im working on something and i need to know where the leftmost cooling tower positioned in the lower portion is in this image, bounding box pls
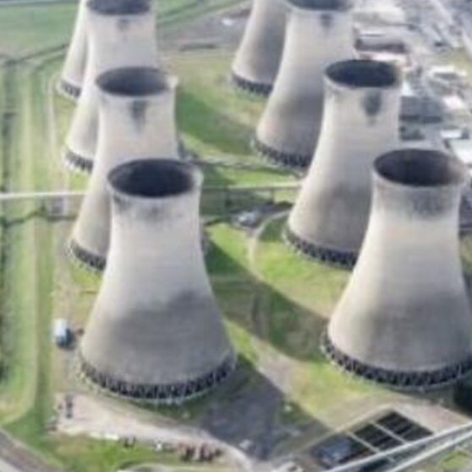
[77,157,241,412]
